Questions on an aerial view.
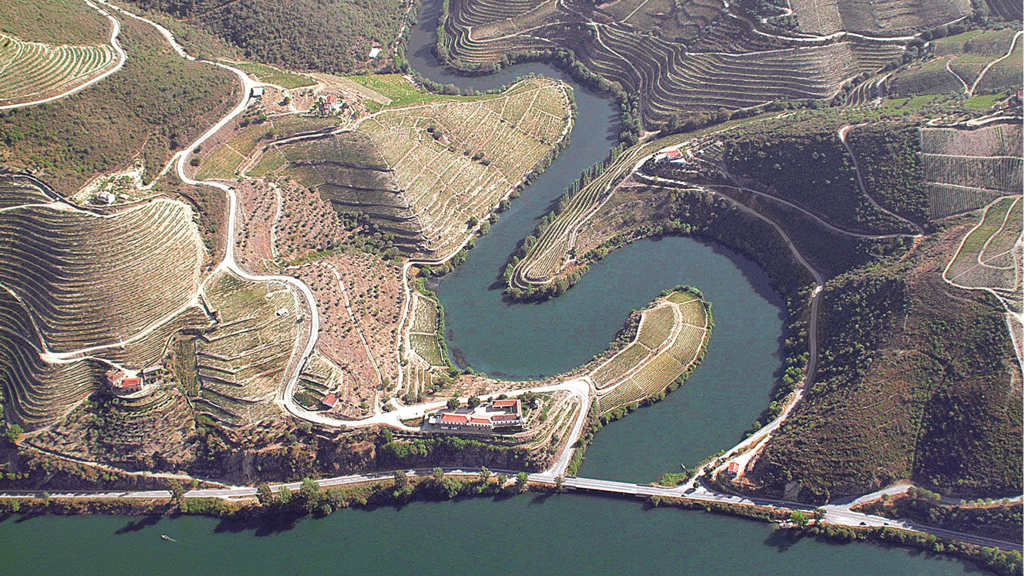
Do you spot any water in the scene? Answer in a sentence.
Yes, there is water in the image.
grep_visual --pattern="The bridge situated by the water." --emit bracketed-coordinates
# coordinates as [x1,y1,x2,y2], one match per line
[562,472,657,503]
